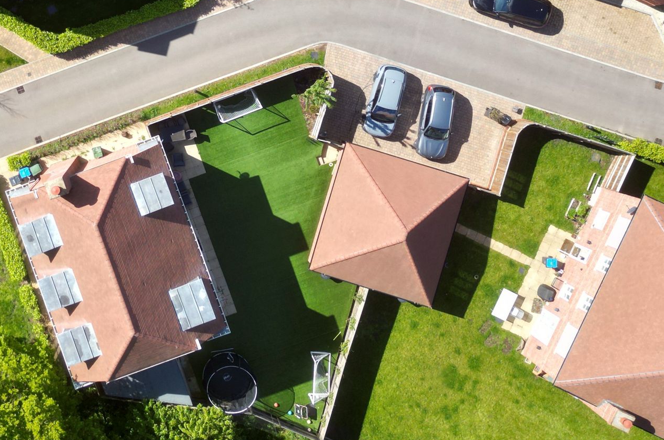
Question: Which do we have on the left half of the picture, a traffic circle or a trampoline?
trampoline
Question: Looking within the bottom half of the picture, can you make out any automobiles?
No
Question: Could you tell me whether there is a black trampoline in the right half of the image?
No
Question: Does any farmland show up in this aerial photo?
No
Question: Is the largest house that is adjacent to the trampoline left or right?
left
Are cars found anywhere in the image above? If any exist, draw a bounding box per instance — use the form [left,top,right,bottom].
[413,83,454,160]
[466,0,551,26]
[362,64,404,138]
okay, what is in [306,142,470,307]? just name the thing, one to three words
building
